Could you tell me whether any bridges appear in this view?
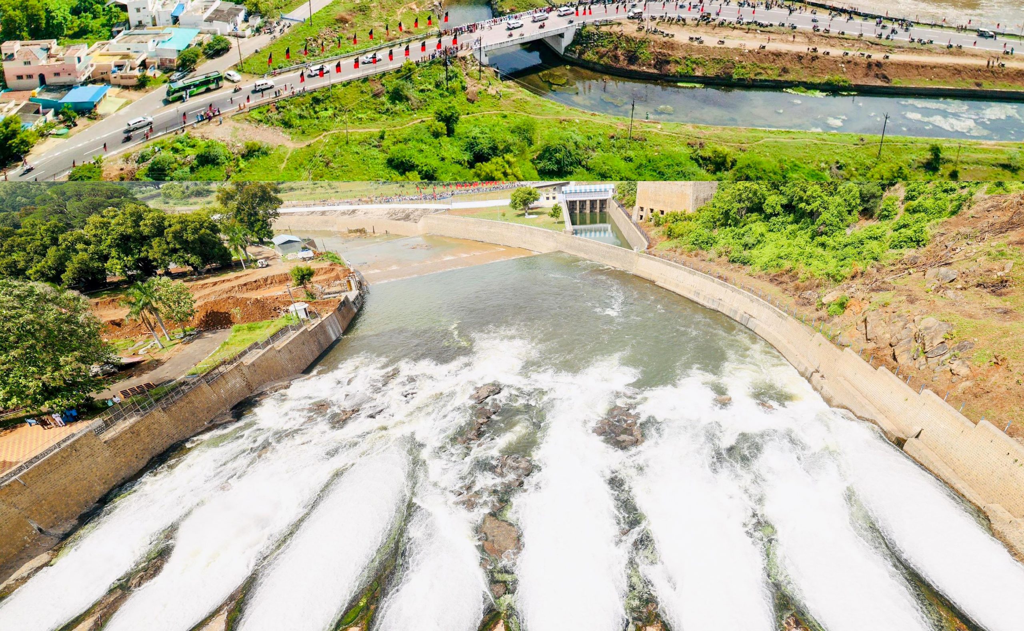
Yes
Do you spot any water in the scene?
Yes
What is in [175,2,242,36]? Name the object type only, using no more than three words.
house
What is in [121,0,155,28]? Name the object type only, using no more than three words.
house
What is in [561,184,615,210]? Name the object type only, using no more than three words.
building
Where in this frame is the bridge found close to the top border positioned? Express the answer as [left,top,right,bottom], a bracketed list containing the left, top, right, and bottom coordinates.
[466,3,586,65]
